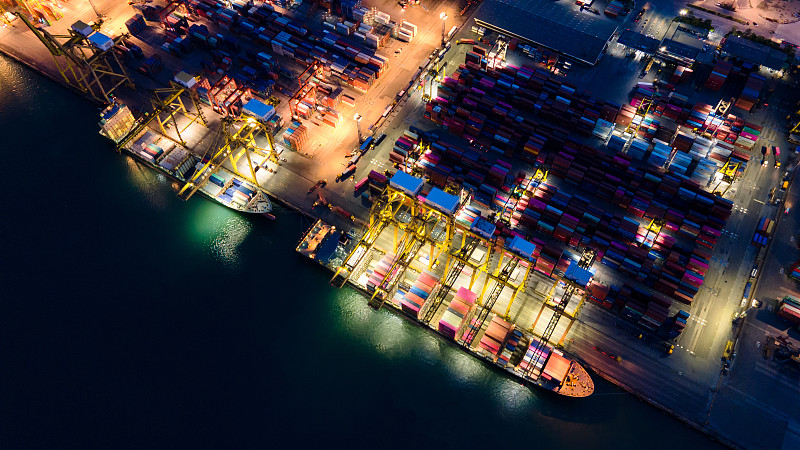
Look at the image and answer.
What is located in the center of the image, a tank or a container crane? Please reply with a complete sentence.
There is a container crane in the center of the image.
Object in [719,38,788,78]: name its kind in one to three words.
shed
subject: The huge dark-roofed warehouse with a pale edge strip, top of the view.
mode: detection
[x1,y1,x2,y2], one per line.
[473,0,640,73]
